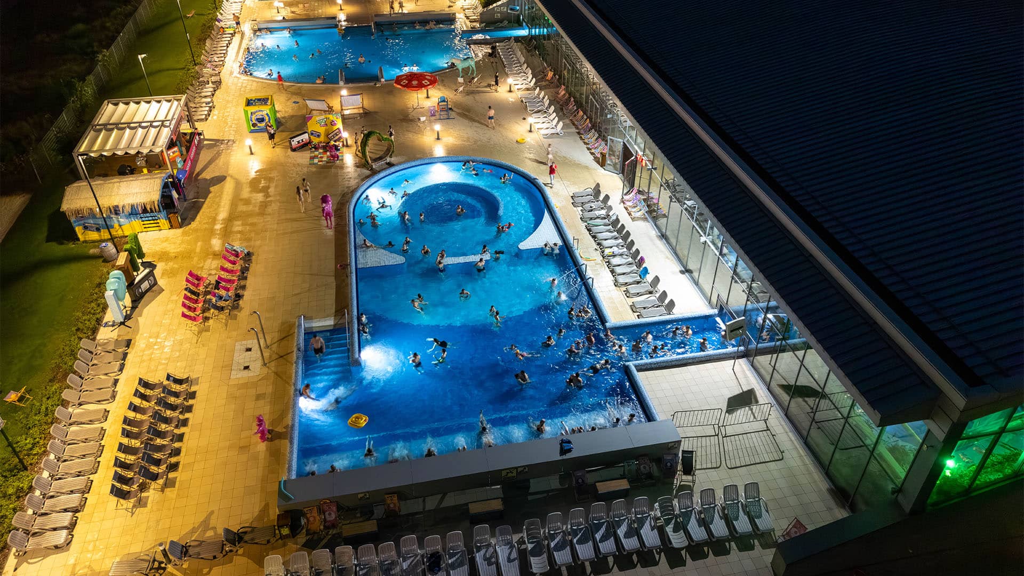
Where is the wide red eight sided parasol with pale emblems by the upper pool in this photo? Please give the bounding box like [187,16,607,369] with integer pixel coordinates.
[388,70,439,111]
